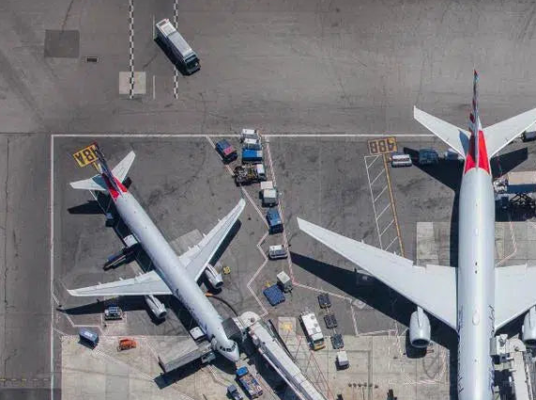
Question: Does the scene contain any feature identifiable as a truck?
Yes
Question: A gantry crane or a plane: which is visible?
plane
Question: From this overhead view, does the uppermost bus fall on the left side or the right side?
left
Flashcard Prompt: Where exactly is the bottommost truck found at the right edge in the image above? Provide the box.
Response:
[493,175,536,209]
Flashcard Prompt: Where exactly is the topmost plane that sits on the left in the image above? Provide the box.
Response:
[63,147,244,360]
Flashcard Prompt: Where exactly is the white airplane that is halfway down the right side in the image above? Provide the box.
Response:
[296,74,536,400]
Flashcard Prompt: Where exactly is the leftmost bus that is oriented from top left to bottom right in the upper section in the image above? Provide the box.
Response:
[155,18,199,78]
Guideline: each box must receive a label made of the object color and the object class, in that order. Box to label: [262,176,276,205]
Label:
white vehicle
